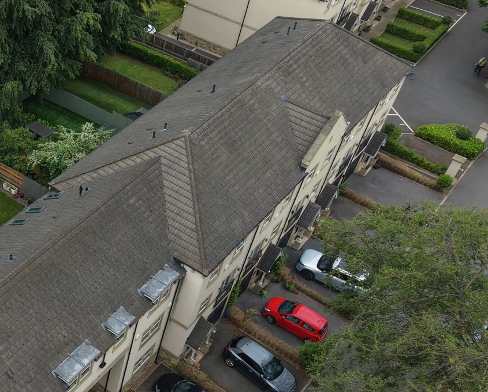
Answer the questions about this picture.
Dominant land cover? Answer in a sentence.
The scene is dominated by buildings.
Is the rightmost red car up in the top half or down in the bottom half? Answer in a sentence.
The rightmost red car is in the bottom half of the image.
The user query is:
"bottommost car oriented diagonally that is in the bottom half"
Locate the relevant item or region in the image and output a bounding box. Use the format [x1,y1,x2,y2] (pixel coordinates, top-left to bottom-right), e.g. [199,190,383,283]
[216,337,292,392]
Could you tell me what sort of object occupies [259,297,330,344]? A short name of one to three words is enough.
car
